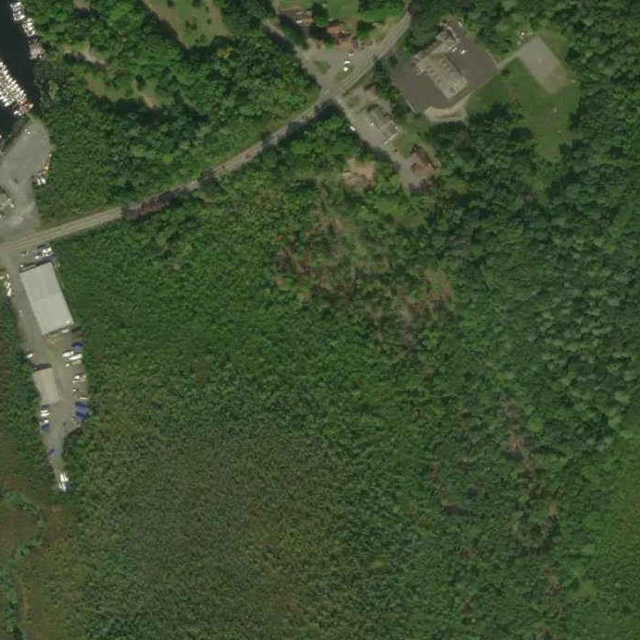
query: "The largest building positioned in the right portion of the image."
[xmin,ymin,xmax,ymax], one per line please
[414,25,466,99]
